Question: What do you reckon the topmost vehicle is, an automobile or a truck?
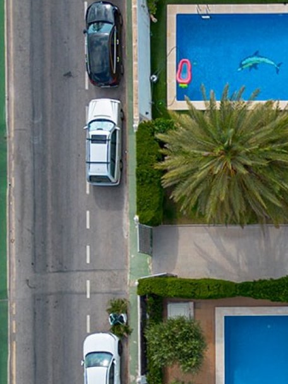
automobile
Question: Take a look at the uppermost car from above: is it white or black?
black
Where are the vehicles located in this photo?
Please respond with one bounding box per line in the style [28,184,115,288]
[79,98,129,187]
[79,1,129,89]
[78,332,128,384]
